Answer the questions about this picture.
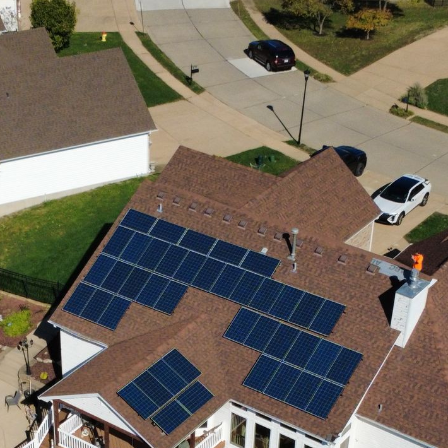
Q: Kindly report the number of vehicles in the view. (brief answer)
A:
three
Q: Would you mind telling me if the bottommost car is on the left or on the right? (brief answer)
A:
right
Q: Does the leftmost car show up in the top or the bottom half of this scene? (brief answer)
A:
top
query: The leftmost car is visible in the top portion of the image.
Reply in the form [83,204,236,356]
[248,38,297,71]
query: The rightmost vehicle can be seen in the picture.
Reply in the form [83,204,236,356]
[371,175,430,225]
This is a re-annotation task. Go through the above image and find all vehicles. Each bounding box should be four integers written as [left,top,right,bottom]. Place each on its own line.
[248,38,297,71]
[371,175,430,225]
[326,147,365,177]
